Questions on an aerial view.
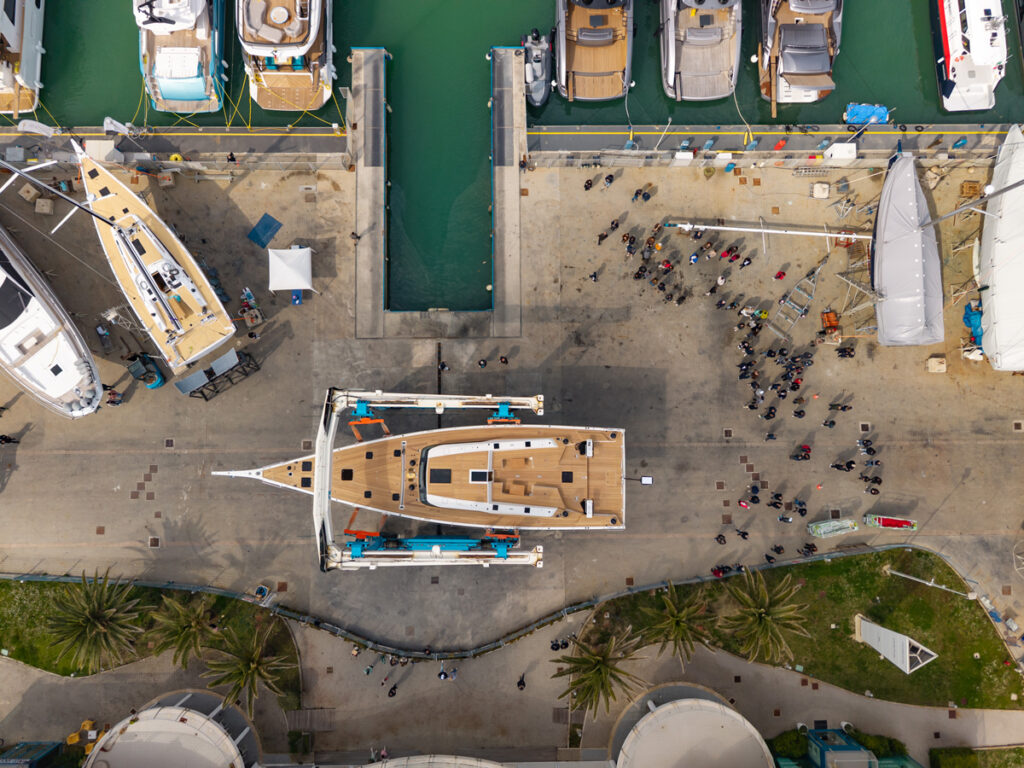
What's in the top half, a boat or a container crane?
boat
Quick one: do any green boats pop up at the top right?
No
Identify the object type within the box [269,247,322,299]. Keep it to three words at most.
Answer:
tent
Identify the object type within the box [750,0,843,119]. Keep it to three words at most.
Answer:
boat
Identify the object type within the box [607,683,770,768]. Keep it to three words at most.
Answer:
building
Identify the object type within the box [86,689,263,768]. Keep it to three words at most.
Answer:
building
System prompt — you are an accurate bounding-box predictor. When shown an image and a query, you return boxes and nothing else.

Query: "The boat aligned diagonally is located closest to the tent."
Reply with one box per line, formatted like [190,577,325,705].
[0,139,235,367]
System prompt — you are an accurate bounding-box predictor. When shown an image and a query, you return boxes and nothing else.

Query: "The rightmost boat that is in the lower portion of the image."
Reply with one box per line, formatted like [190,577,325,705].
[211,425,652,529]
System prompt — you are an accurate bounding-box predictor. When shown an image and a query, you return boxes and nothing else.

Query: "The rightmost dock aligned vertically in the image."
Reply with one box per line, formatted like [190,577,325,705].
[490,46,526,336]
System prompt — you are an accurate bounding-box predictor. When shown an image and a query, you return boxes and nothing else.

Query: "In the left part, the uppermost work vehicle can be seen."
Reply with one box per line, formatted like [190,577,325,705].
[129,355,168,390]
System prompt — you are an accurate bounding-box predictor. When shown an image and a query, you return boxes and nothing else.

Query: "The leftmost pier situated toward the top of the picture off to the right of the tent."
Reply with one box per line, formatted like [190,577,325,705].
[351,46,389,336]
